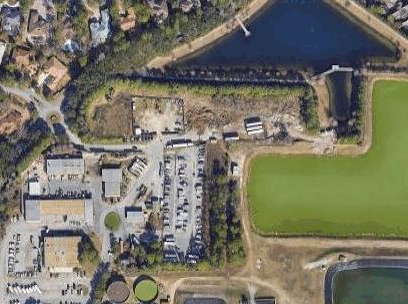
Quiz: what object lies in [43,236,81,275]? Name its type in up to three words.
building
